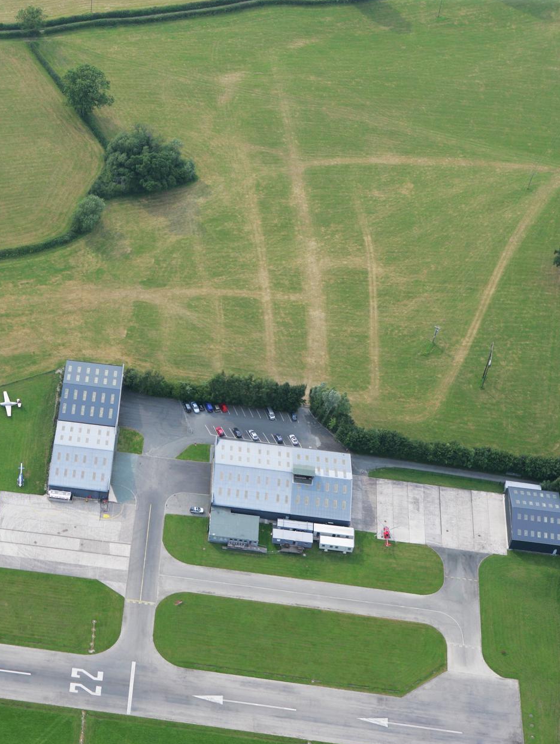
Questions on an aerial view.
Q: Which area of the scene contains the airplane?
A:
left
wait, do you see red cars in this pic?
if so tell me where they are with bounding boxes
[215,426,223,435]
[220,402,228,412]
